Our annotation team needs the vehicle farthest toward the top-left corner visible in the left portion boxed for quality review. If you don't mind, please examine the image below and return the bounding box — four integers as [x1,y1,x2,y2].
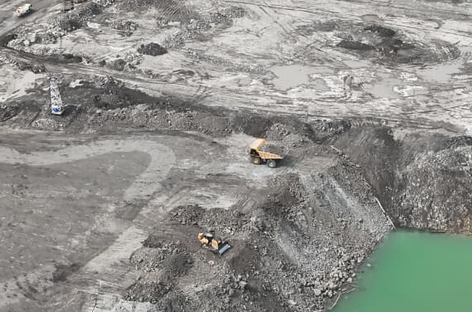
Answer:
[12,2,33,16]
